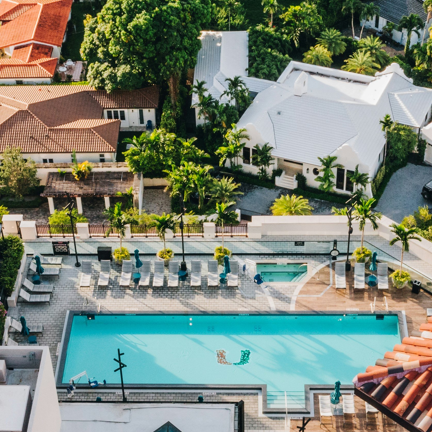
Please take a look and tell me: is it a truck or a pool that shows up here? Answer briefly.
pool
